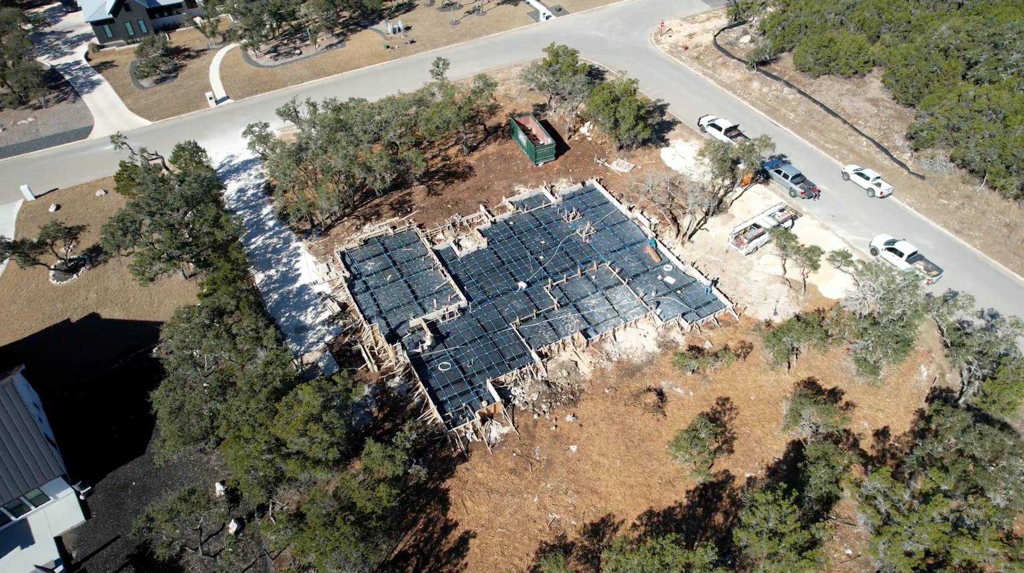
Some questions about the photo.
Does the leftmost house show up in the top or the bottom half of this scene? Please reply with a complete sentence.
The leftmost house sits in the bottom half of the picture.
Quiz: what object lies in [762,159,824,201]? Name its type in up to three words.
truck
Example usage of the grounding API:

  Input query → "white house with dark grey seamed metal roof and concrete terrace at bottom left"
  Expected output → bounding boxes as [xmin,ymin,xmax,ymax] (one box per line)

[0,368,88,573]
